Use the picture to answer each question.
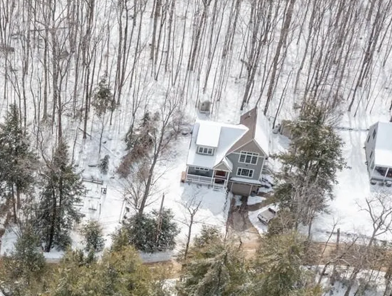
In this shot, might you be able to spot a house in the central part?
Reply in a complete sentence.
Yes, I can see a house in the central part.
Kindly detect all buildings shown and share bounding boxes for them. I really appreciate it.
[359,116,392,181]
[199,96,213,112]
[186,104,282,215]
